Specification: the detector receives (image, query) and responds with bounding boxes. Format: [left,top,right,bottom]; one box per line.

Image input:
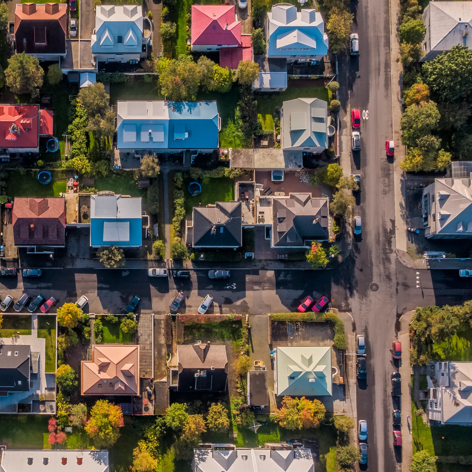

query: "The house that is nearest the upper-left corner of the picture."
[8,3,67,64]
